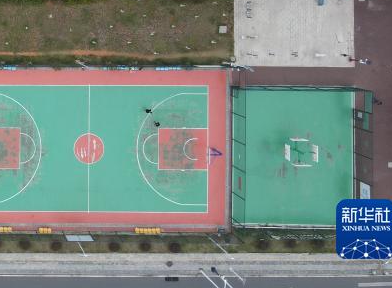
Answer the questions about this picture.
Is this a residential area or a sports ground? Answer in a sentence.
It's a sports ground.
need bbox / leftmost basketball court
[0,85,208,213]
